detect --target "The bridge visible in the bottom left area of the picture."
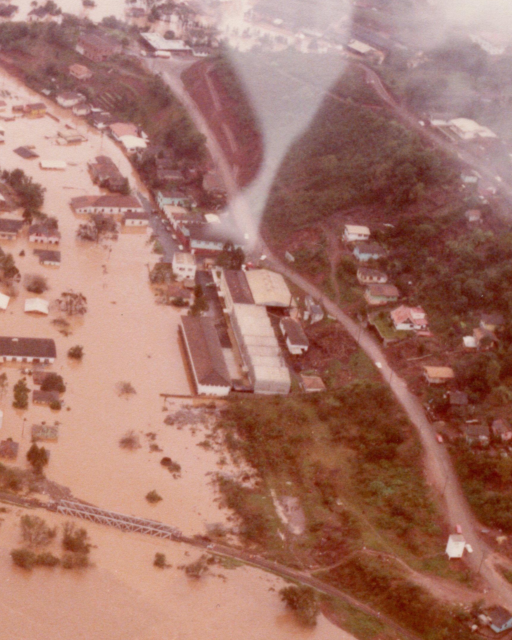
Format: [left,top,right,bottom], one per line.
[52,501,179,543]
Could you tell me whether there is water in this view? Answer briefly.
Yes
